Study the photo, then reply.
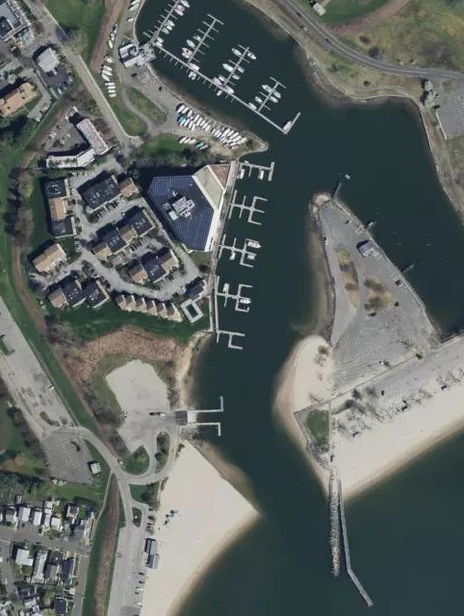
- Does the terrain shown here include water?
Yes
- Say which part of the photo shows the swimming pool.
center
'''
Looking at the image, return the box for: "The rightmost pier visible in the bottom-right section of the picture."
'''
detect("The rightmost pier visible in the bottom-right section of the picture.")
[338,473,374,607]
